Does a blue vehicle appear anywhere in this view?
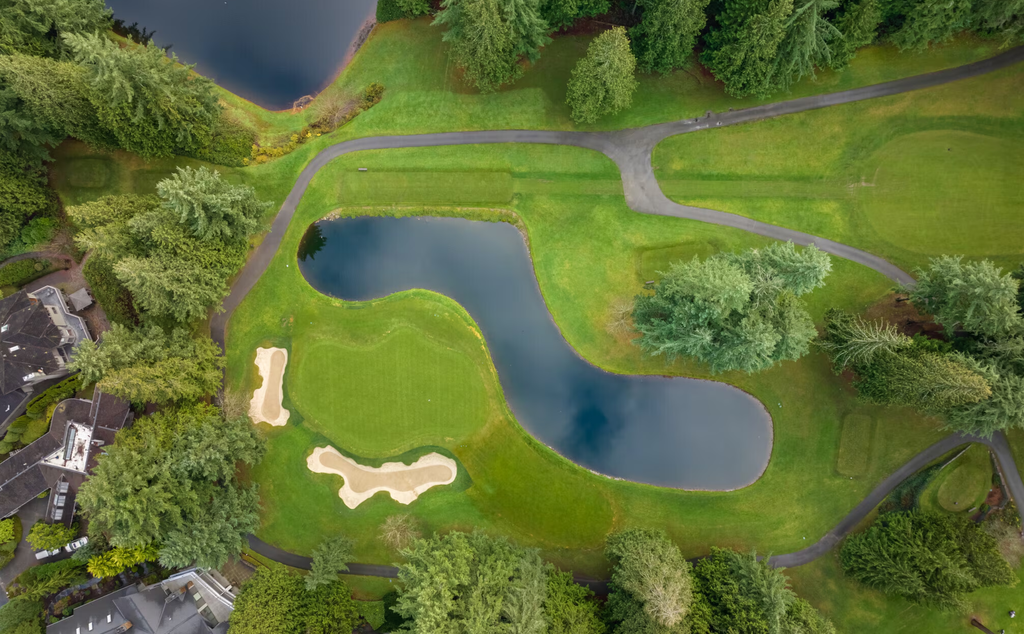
No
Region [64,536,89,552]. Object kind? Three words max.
car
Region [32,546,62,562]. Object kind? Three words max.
vehicle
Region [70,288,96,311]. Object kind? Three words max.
gazebo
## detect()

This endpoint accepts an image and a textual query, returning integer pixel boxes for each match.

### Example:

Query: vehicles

[32,546,62,562]
[64,536,89,552]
